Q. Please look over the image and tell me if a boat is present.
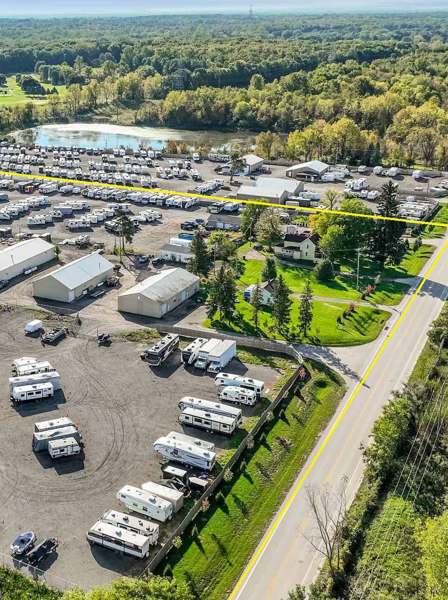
Yes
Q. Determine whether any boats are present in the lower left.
Yes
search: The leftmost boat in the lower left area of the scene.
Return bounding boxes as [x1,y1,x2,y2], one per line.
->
[9,524,38,550]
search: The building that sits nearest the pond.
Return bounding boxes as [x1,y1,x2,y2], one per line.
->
[237,155,265,173]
